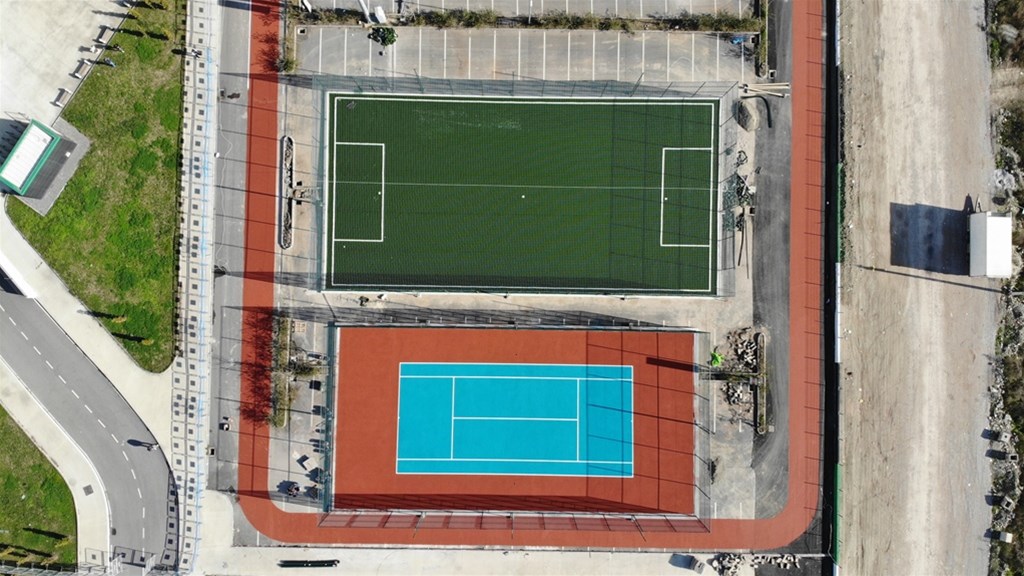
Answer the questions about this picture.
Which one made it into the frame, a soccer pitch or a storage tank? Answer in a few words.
soccer pitch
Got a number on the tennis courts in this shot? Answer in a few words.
one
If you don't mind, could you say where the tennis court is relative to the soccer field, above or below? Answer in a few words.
below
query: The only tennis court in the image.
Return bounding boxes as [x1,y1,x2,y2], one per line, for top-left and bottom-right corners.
[331,322,701,519]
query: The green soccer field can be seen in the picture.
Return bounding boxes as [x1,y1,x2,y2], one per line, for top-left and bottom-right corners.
[322,90,721,298]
